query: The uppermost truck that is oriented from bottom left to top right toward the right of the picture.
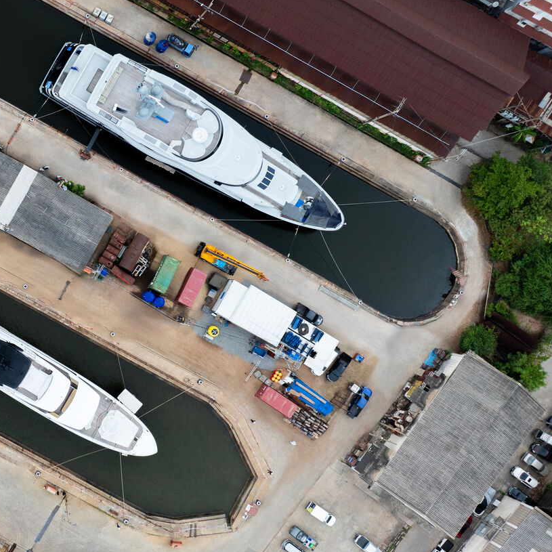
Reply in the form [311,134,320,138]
[325,351,354,382]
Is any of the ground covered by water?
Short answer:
Yes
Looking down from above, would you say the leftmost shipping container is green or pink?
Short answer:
green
